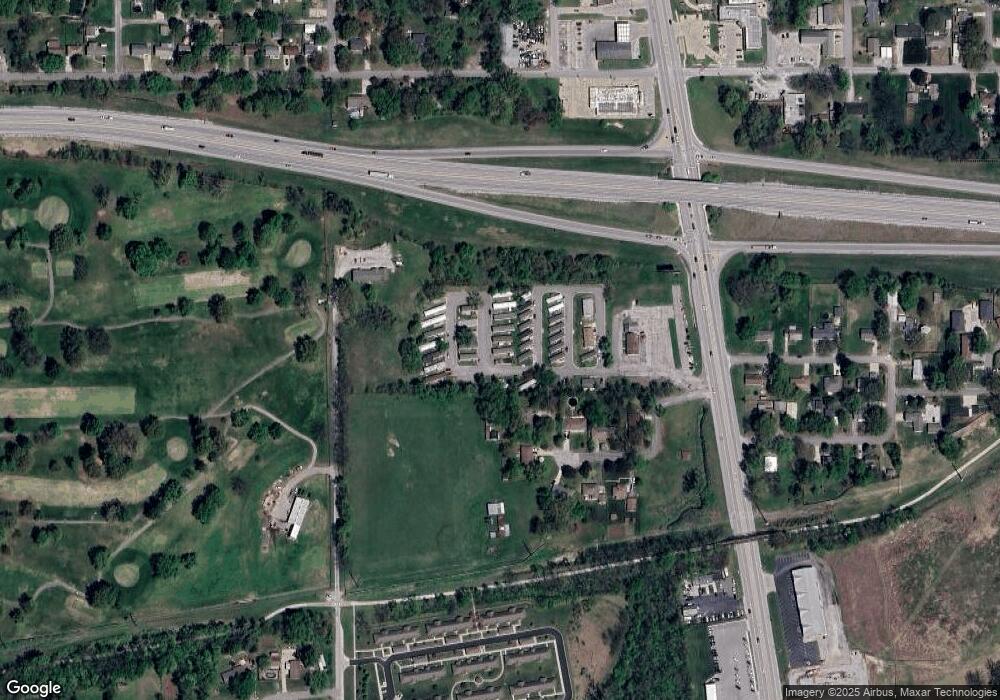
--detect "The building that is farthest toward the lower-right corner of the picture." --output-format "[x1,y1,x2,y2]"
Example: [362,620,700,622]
[793,568,825,641]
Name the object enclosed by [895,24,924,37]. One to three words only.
house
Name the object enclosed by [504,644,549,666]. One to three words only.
building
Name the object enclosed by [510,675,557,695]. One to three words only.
building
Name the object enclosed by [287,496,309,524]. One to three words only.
shed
